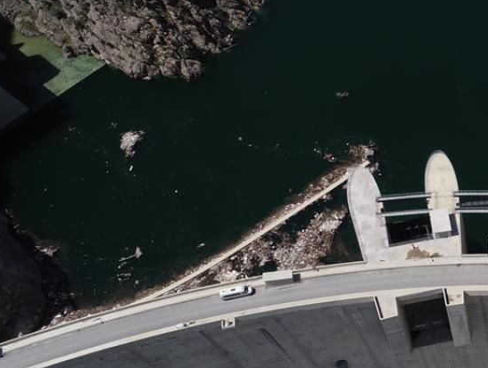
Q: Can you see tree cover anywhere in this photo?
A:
No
